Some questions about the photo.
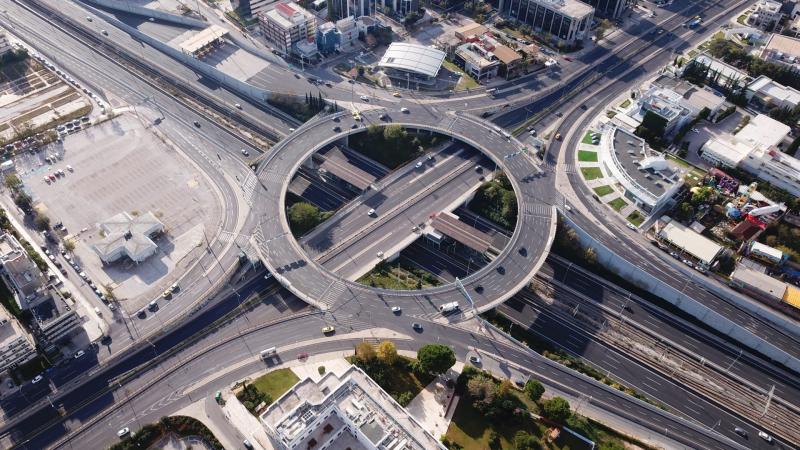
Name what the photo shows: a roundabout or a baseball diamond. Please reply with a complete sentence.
The image shows a roundabout.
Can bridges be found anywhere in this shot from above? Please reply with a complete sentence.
Yes, there is a bridge in the image.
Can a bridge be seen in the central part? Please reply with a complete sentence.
Yes, the scene does show a bridge in the central part.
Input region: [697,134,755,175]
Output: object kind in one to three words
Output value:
building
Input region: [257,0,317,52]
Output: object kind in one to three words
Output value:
building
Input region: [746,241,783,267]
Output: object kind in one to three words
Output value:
shed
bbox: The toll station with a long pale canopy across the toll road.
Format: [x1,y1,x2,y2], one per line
[180,23,230,59]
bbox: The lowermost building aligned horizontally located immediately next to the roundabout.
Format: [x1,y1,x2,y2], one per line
[259,364,451,450]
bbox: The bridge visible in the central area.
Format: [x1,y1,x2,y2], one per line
[328,155,479,265]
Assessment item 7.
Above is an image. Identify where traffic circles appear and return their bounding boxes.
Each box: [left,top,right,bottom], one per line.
[249,105,555,325]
